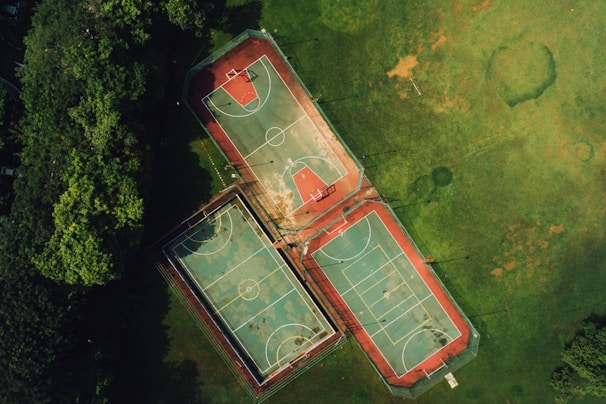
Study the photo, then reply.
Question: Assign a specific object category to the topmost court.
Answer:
basketball court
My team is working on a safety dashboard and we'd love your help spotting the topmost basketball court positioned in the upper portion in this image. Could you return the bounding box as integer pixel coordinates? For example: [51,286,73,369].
[189,37,361,232]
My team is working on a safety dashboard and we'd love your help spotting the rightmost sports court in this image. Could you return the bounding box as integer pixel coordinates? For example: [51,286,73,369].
[302,200,470,386]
